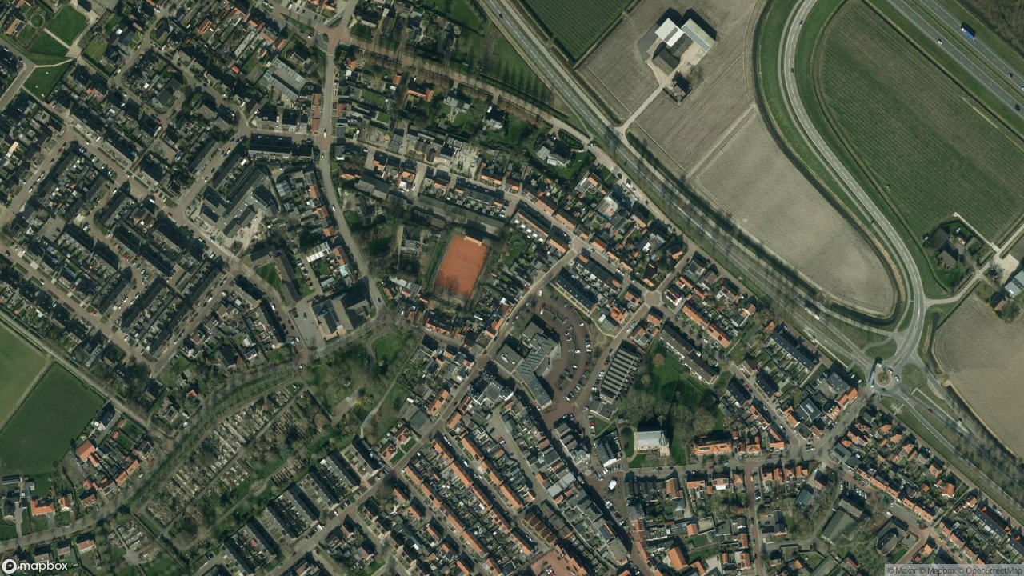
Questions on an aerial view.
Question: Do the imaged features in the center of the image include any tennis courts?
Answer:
Yes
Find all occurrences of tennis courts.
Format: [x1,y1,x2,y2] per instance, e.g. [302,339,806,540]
[436,233,489,297]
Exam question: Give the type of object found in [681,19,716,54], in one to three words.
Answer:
barn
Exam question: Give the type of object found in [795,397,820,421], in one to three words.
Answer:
building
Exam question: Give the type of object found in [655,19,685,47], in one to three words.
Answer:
barn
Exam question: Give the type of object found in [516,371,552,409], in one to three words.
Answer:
building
